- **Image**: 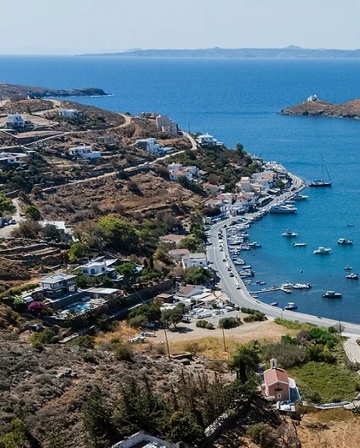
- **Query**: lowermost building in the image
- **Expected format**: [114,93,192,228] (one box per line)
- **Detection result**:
[268,355,295,401]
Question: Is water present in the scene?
Yes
